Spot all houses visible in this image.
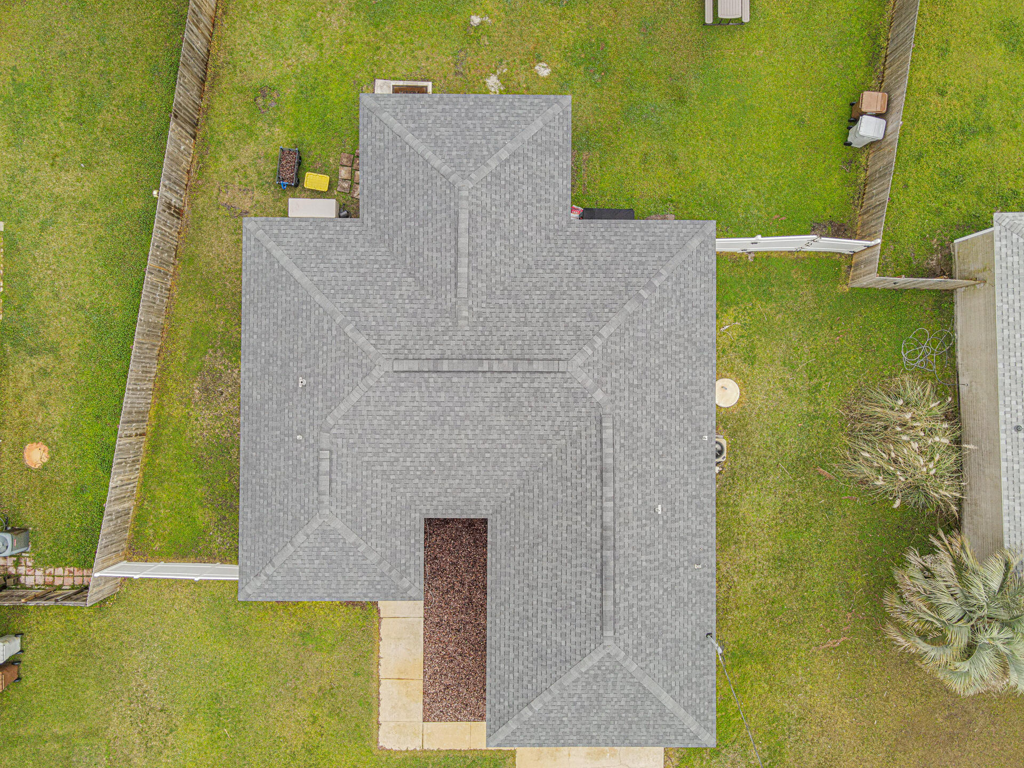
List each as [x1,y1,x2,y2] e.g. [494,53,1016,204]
[238,94,716,747]
[952,213,1024,583]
